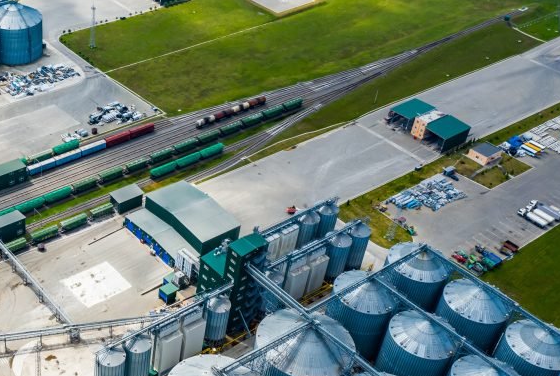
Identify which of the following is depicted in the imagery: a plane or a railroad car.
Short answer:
railroad car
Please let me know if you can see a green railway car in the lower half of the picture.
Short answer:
Yes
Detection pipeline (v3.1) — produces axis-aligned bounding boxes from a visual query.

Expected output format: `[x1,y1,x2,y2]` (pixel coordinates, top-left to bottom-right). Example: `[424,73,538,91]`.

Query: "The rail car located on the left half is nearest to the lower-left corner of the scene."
[0,236,28,256]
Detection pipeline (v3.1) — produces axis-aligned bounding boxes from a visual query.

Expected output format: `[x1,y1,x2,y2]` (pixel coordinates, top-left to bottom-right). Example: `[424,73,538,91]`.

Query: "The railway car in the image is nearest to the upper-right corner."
[278,98,300,112]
